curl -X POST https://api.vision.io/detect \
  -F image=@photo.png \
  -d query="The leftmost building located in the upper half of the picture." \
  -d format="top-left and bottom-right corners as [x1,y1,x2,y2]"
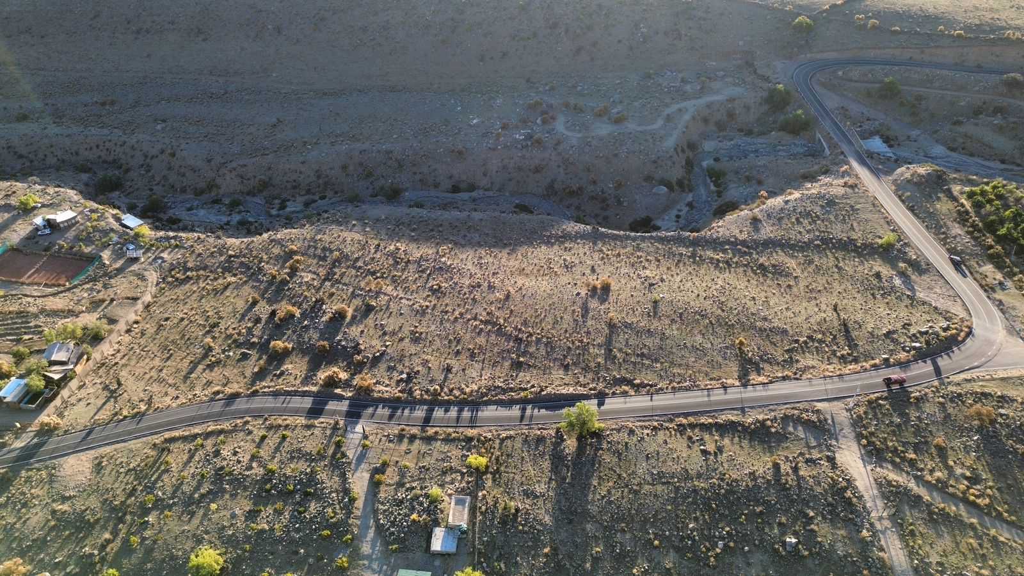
[25,209,81,236]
